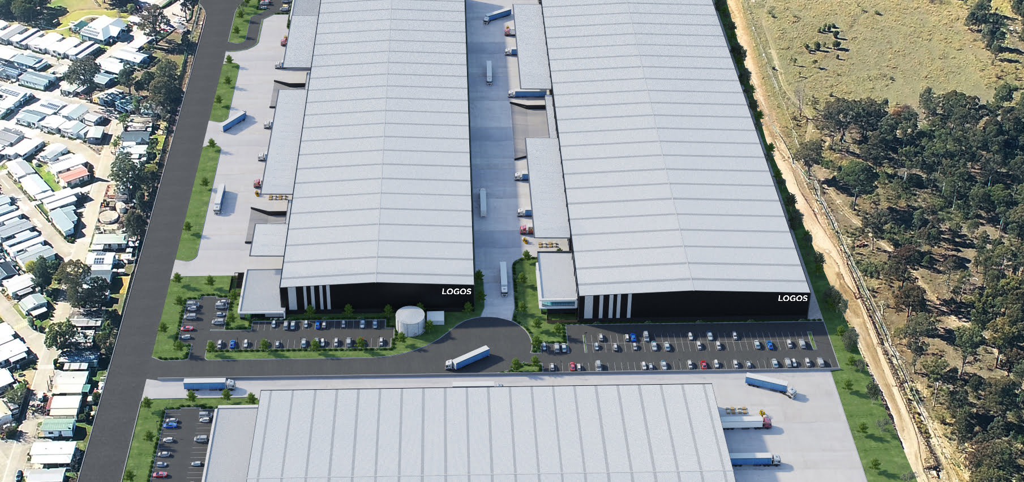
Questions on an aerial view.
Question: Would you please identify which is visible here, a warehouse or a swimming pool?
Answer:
warehouse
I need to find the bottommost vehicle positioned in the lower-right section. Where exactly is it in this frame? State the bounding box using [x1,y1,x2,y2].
[731,453,782,467]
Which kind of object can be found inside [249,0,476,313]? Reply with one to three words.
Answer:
warehouse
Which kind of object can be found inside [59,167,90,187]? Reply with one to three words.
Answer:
house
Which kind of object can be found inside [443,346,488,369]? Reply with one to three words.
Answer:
truck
